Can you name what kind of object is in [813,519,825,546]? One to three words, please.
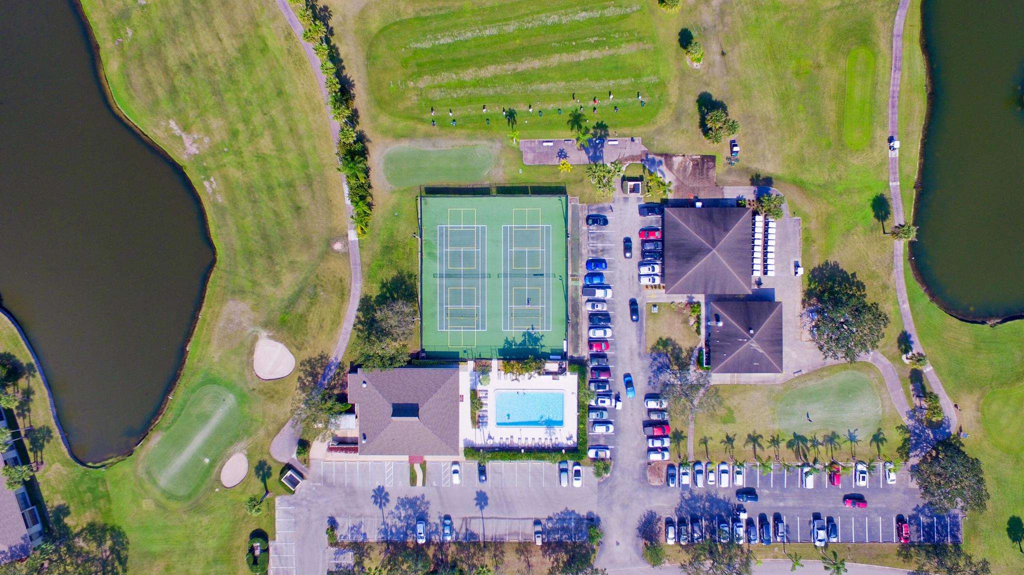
vehicle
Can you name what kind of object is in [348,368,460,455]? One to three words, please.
building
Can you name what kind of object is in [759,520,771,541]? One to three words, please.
vehicle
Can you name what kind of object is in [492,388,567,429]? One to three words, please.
swimming pool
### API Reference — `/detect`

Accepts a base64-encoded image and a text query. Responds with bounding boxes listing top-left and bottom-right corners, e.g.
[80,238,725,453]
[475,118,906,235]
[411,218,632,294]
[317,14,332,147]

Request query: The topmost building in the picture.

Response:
[663,207,752,294]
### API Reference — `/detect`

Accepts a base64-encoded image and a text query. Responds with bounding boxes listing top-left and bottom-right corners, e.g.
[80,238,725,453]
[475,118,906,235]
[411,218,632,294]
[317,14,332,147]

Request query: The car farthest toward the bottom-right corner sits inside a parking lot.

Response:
[897,520,909,542]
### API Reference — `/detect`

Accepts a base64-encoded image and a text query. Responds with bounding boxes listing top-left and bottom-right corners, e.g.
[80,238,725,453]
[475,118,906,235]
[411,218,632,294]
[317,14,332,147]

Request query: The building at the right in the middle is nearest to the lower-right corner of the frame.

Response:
[710,301,783,374]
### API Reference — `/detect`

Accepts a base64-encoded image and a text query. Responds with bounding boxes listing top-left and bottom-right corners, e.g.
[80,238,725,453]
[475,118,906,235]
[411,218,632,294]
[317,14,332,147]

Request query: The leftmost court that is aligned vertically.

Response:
[421,195,494,359]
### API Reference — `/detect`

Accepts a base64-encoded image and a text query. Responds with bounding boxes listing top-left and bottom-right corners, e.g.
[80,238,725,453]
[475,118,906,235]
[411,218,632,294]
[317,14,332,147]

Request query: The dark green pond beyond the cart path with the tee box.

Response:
[914,0,1024,316]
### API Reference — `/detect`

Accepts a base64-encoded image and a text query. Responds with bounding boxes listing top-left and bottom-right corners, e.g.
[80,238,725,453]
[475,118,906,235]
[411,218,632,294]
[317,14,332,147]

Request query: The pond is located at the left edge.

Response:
[0,0,211,462]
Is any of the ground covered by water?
Yes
